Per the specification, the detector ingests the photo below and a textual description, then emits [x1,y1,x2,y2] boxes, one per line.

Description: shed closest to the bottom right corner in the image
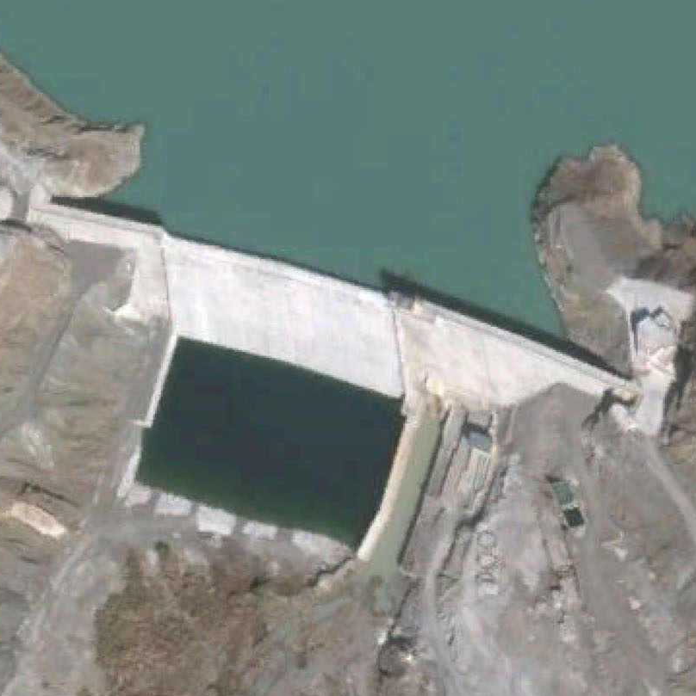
[564,509,586,536]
